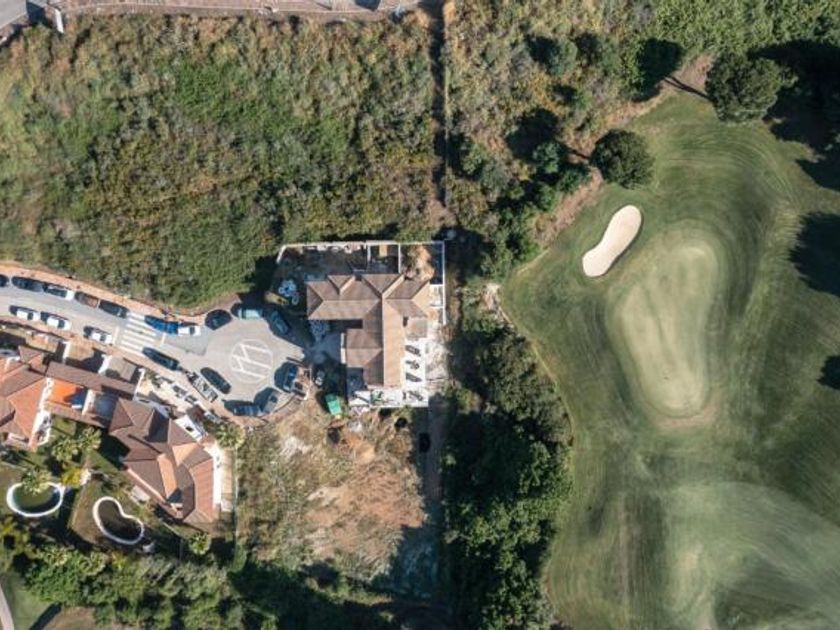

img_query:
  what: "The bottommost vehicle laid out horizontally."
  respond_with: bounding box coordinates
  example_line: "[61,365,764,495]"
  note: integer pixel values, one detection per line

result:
[232,402,260,416]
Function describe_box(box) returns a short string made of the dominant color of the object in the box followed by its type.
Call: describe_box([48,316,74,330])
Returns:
white vehicle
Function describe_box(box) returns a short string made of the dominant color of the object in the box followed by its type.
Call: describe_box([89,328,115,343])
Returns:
white car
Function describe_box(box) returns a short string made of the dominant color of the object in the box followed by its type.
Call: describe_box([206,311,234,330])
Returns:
black car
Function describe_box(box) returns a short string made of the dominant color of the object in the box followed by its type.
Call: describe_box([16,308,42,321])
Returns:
white vehicle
